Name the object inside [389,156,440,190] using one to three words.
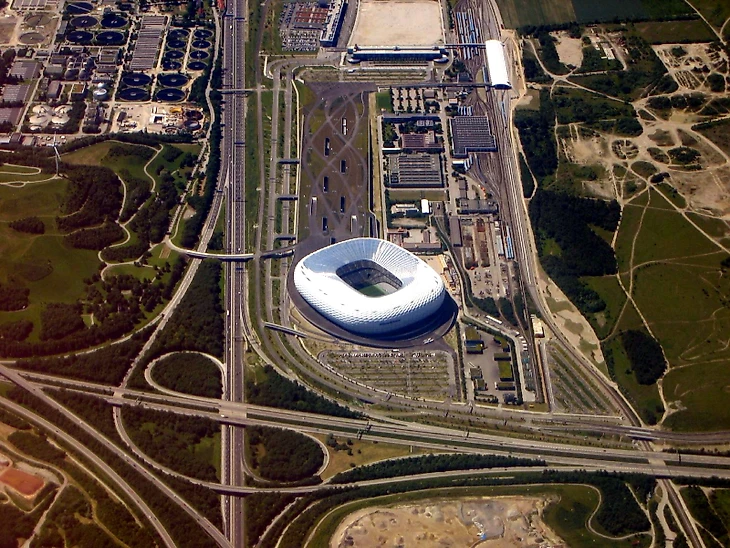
building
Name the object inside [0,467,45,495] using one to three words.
sports field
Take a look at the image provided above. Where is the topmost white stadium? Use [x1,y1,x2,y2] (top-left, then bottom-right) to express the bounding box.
[293,239,447,340]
